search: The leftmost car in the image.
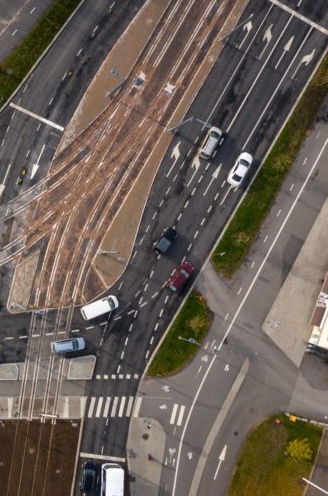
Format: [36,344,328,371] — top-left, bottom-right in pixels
[51,337,85,353]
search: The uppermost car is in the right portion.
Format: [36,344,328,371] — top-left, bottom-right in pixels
[198,127,222,162]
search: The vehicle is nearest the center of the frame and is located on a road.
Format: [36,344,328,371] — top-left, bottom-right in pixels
[150,226,178,255]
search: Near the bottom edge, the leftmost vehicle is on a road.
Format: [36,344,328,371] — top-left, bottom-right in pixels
[80,459,97,493]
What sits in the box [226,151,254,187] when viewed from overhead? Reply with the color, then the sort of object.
white car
